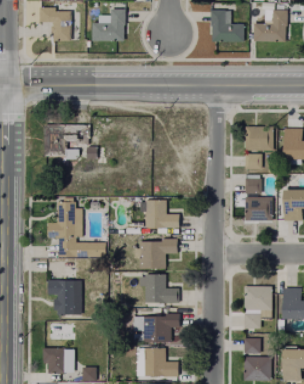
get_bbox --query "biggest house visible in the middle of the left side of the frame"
[48,202,108,257]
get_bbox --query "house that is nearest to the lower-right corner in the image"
[282,346,304,382]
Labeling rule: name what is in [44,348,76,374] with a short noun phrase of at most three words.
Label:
house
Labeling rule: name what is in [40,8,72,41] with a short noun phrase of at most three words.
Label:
house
